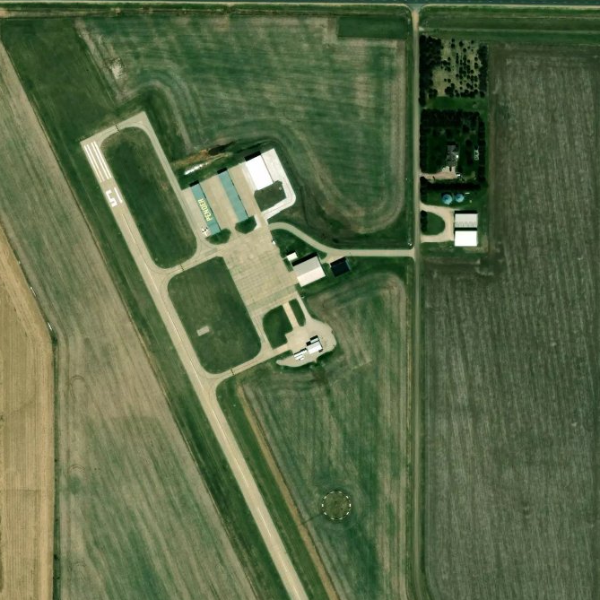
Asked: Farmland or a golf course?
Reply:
farmland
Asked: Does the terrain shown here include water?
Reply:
No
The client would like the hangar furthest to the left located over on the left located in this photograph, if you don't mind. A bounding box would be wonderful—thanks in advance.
[192,184,220,234]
